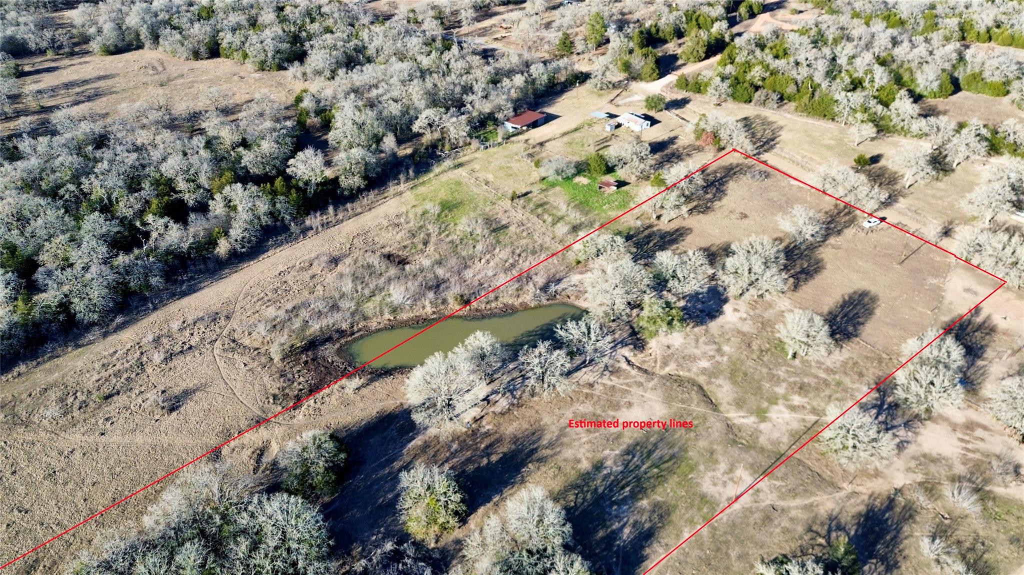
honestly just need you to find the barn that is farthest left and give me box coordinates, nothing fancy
[503,112,546,132]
